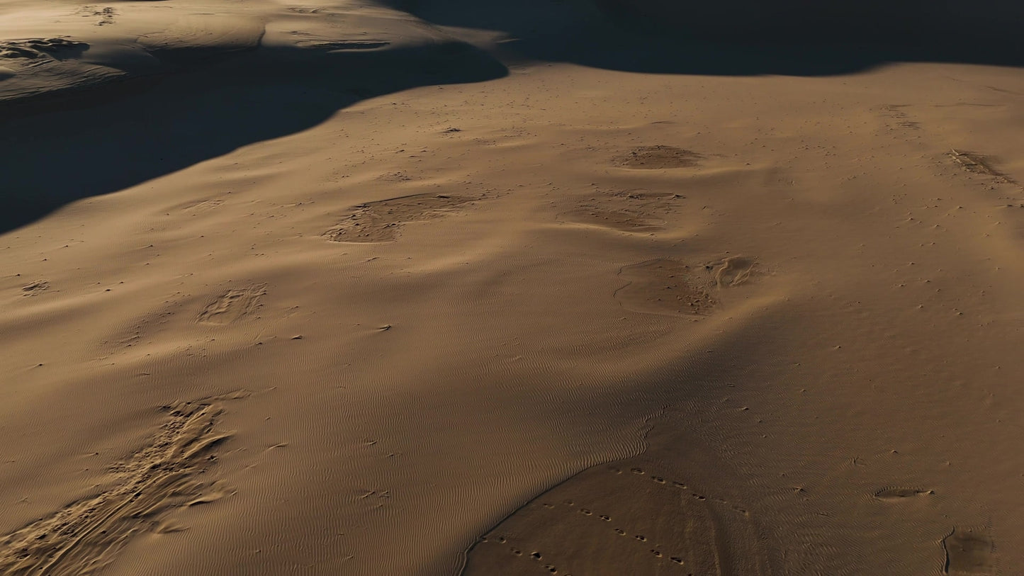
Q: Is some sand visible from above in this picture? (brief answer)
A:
Yes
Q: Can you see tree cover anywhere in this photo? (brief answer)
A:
No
